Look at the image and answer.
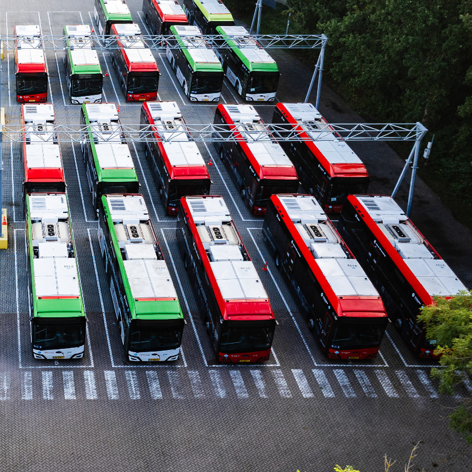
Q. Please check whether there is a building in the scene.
No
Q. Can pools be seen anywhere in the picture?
No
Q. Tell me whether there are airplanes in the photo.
No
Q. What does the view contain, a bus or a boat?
bus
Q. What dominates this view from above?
paved ground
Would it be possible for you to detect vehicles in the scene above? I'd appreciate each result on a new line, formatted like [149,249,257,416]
[213,104,301,214]
[273,104,375,214]
[214,25,282,100]
[145,0,191,49]
[140,104,215,214]
[184,0,237,49]
[101,198,188,359]
[164,25,226,100]
[340,196,472,358]
[262,196,394,358]
[18,104,67,214]
[60,26,105,101]
[173,196,280,359]
[96,0,136,49]
[110,25,161,100]
[14,26,50,101]
[26,196,89,358]
[80,104,142,214]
